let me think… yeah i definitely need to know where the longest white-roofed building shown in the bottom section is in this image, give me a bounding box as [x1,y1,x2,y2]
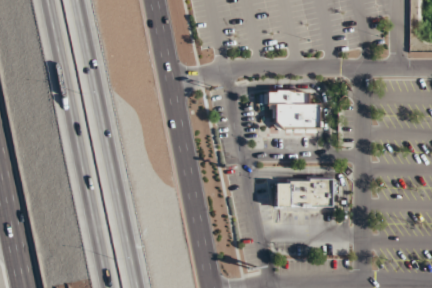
[278,179,334,209]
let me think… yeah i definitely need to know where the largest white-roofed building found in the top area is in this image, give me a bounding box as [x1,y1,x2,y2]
[262,89,322,133]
